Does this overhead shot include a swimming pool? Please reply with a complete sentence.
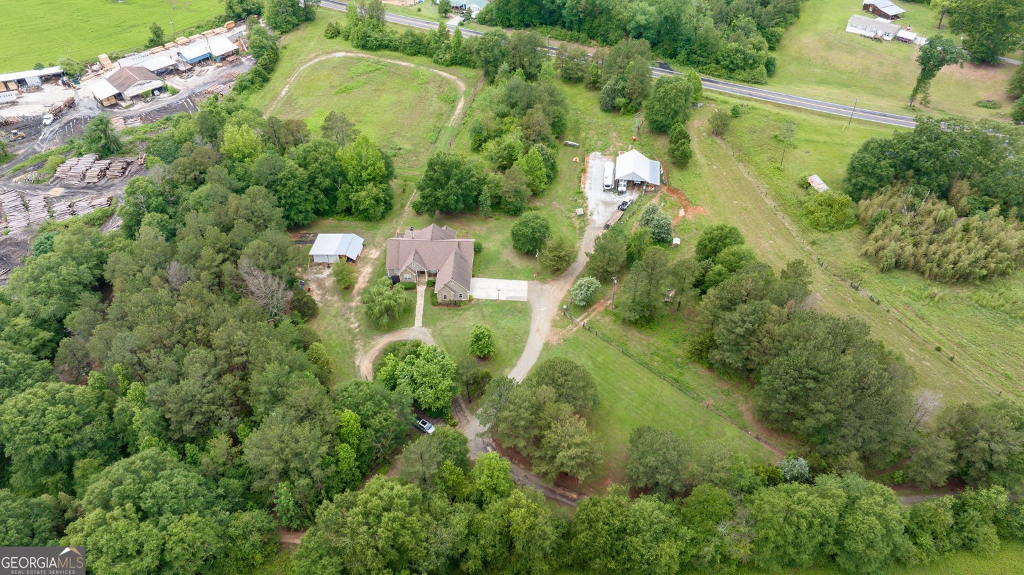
No, I find no swimming pool anywhere in the image.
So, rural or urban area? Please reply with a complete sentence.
From above, the setting appears rural.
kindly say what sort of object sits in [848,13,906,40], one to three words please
house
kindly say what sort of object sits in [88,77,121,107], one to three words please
shed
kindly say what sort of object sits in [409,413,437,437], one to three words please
car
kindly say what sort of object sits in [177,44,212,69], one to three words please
building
